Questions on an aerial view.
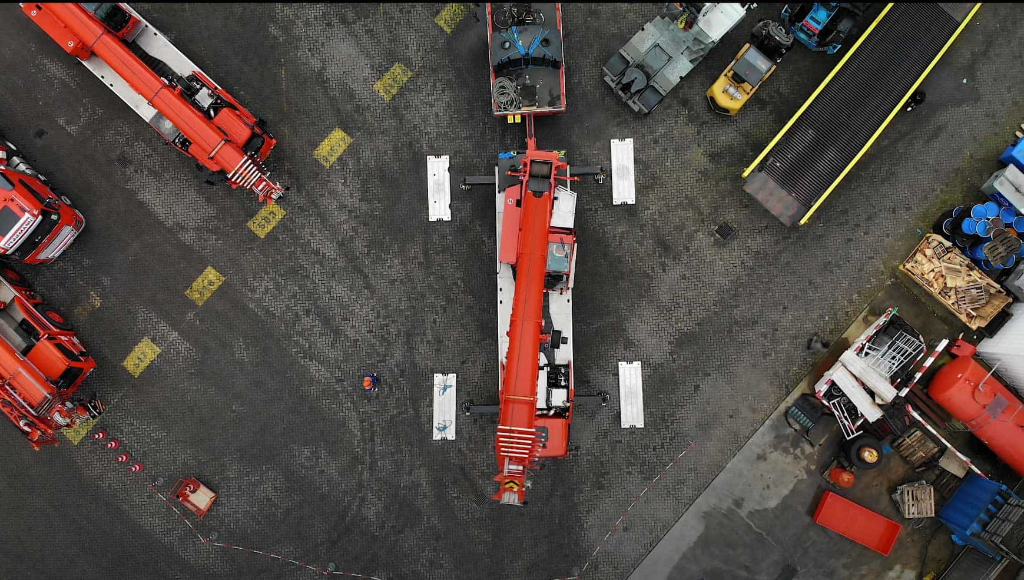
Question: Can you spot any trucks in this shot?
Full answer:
Yes, this view includes a truck.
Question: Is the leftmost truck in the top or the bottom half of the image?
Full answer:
The leftmost truck sits in the top half of the picture.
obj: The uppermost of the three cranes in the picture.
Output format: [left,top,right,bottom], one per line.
[16,0,291,207]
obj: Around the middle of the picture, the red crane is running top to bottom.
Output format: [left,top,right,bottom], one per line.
[459,150,610,507]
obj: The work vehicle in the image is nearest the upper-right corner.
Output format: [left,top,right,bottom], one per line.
[777,0,871,59]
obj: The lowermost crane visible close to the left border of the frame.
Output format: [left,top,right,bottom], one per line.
[0,264,112,451]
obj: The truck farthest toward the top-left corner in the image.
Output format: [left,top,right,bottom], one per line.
[0,140,90,265]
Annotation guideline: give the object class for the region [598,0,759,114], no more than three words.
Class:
truck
